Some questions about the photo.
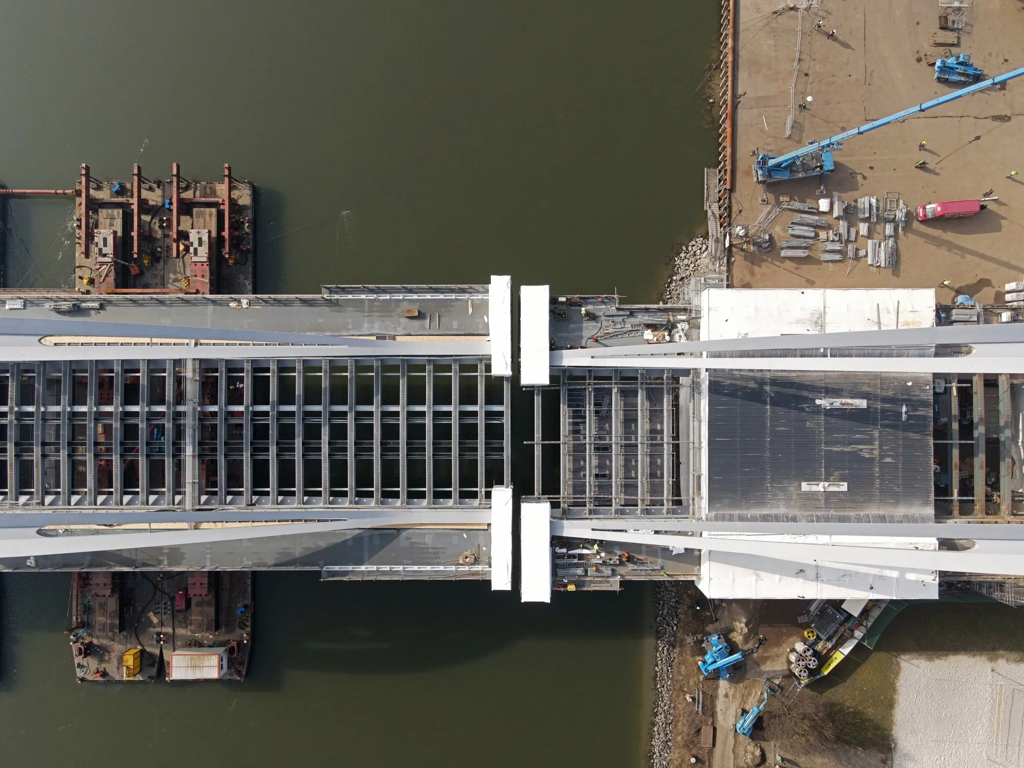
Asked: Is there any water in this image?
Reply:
Yes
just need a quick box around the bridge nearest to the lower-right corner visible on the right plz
[534,294,1024,593]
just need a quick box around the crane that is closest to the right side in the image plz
[748,72,1024,203]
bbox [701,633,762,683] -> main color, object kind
blue work vehicle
